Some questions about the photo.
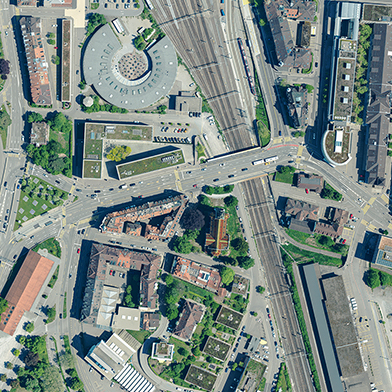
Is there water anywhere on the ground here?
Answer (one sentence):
No, no water is visible.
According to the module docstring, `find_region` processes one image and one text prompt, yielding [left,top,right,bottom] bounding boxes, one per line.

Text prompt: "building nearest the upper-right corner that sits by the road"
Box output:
[362,4,392,23]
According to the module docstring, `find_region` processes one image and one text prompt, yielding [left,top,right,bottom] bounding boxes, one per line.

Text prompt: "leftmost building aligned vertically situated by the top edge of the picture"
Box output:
[21,15,52,105]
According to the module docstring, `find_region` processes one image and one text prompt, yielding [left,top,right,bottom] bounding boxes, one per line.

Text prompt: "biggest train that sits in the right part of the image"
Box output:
[238,36,255,94]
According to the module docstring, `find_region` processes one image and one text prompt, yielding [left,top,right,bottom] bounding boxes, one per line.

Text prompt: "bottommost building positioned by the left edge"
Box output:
[0,251,53,337]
